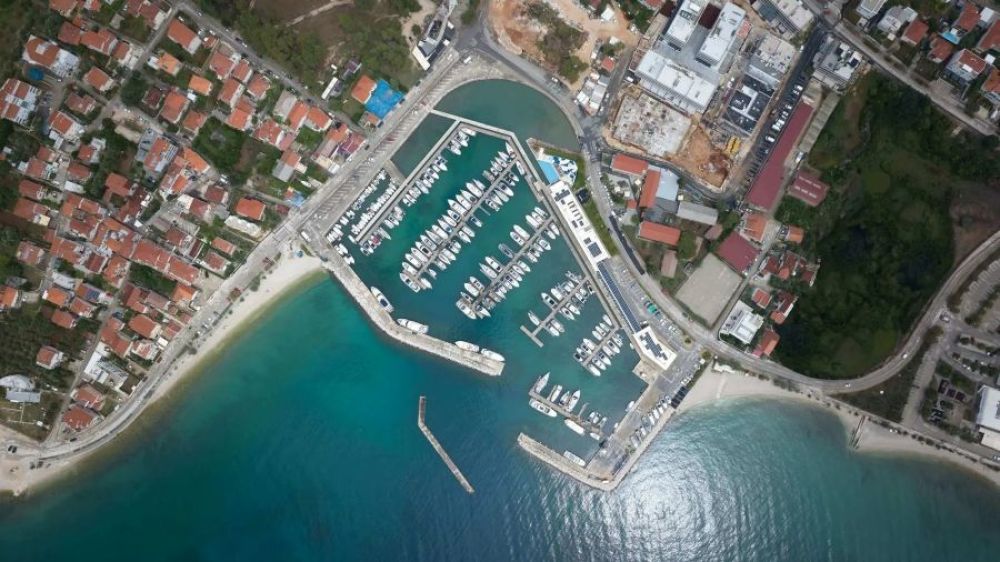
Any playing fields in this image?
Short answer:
Yes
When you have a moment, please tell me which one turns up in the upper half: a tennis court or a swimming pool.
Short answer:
swimming pool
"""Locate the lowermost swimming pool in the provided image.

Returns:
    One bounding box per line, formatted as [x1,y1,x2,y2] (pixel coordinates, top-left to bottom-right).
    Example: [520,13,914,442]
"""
[537,155,577,186]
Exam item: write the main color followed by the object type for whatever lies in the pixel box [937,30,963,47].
blue swimming pool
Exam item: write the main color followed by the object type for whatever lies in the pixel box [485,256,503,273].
white boat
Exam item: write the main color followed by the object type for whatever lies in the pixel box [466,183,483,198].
white boat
